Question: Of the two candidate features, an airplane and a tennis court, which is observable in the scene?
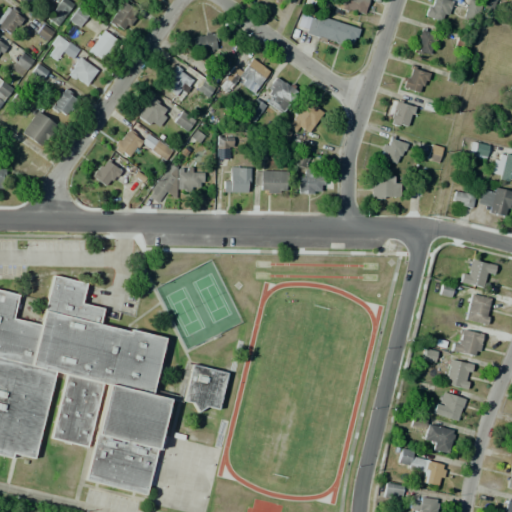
tennis court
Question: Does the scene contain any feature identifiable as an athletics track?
Yes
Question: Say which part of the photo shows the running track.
bottom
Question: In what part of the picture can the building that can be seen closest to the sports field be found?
bottom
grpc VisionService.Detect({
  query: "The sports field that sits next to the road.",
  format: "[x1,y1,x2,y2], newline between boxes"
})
[230,287,370,494]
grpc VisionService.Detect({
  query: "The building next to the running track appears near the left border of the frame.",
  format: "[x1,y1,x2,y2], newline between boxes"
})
[0,276,174,495]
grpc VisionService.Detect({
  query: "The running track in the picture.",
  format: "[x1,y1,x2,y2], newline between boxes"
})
[218,280,384,504]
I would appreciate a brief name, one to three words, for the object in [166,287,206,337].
tennis court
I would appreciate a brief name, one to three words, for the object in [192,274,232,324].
tennis court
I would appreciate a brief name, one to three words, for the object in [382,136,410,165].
house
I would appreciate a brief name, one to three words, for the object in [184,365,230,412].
building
